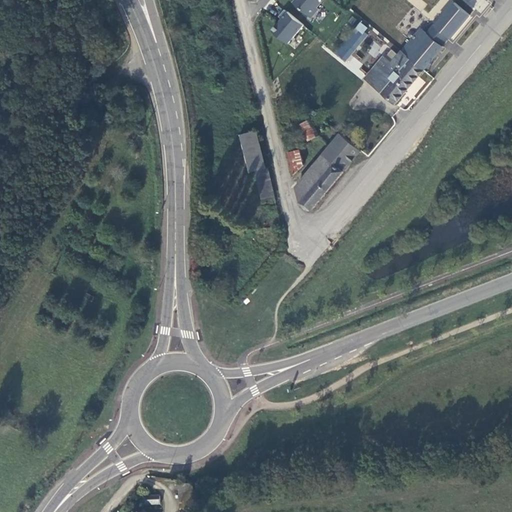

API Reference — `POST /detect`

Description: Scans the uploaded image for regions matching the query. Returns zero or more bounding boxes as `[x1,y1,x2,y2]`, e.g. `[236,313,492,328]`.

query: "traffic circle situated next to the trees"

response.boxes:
[116,350,258,471]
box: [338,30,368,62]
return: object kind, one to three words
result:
shed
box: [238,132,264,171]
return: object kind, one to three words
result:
barn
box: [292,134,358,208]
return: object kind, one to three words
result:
house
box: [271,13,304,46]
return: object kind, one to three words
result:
house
